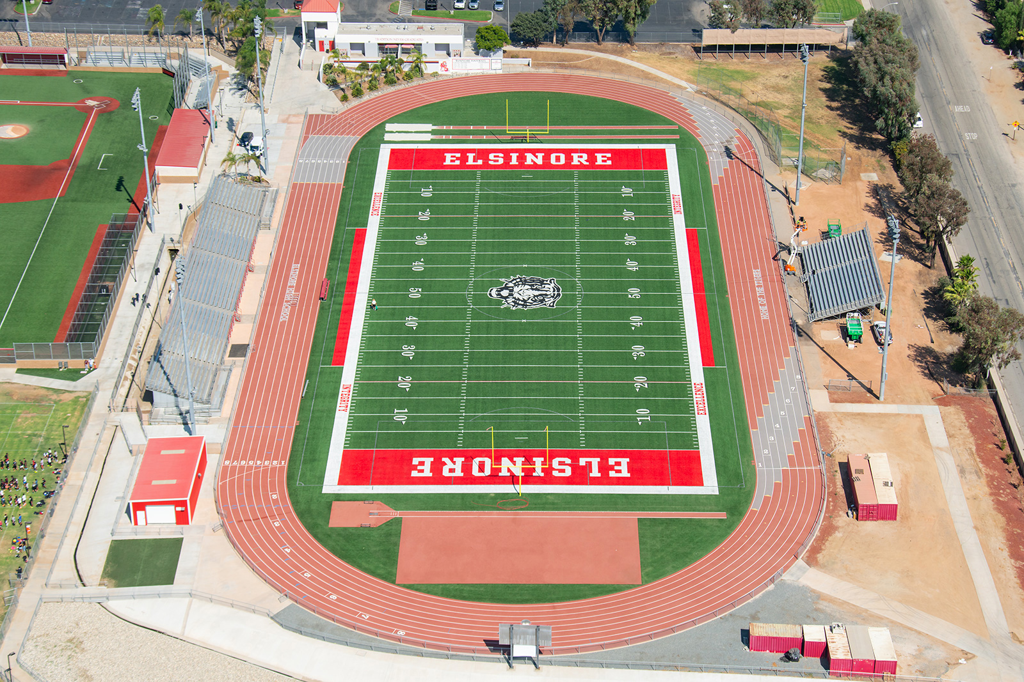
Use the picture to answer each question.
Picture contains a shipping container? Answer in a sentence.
Yes, a shipping container can be made out from above.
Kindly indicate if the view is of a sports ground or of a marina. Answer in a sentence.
The picture captures a sports ground.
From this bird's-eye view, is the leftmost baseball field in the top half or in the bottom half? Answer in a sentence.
The leftmost baseball field is in the top half of the image.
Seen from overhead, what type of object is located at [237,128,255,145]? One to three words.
car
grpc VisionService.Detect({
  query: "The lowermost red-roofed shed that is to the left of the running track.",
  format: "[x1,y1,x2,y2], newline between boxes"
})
[129,436,208,525]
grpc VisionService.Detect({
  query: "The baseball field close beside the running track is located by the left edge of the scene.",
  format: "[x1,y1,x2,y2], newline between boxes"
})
[0,67,175,354]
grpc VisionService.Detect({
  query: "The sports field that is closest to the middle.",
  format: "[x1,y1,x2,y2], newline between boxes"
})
[287,91,754,603]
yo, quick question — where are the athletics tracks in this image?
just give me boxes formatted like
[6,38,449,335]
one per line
[213,71,829,652]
